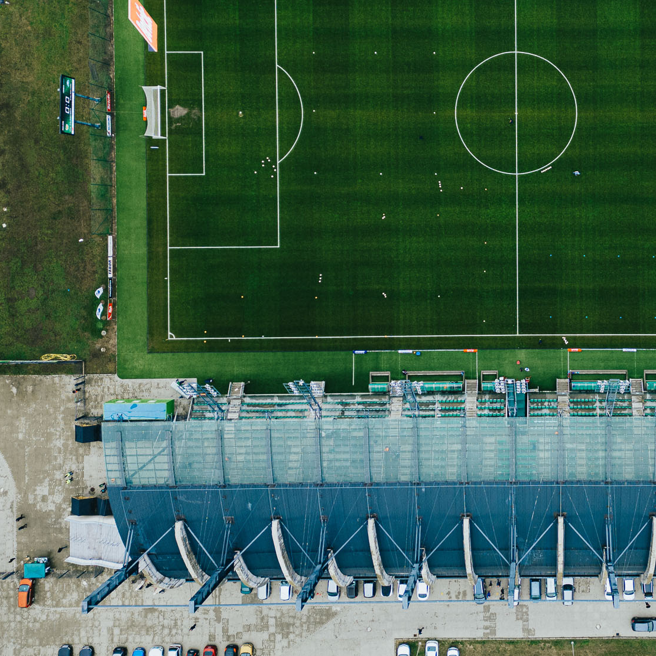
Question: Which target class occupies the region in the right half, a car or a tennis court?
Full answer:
Visible in the right half is a car.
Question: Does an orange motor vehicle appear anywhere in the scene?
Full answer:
Yes, an orange motor vehicle appears in the view.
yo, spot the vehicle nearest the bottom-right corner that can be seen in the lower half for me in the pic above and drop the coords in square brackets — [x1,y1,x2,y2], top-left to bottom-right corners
[632,616,656,633]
